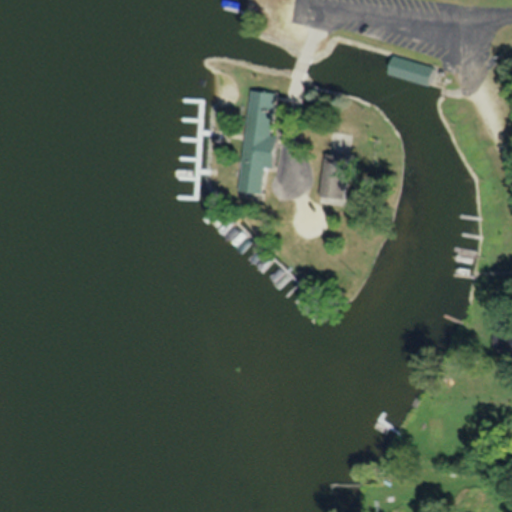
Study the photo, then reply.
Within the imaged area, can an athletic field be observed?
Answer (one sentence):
No, no athletic field can be seen from above.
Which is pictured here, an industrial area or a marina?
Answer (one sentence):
It's a marina.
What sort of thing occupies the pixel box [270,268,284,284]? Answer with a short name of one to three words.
boat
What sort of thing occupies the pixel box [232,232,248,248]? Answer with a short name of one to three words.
boat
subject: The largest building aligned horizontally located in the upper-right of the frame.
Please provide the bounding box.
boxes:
[387,56,434,86]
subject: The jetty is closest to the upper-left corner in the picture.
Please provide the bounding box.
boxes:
[176,98,210,202]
